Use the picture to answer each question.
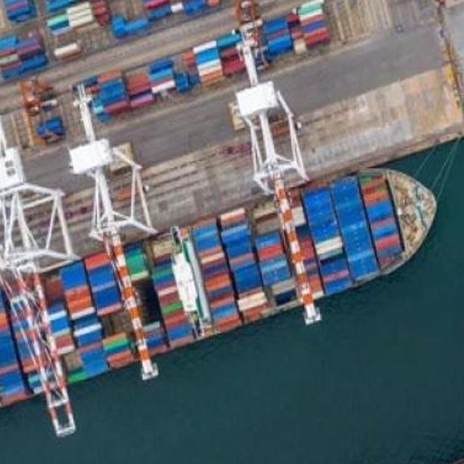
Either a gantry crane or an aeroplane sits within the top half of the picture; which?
gantry crane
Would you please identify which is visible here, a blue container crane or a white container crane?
white container crane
